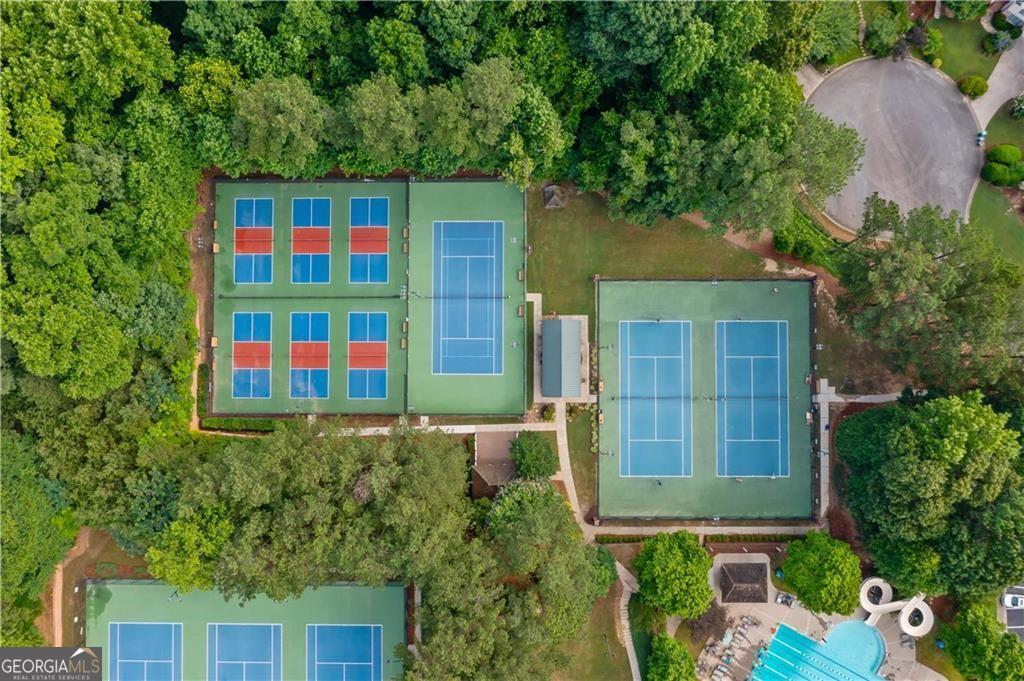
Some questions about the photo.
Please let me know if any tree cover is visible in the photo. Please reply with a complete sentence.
Yes, the picture does contain tree cover.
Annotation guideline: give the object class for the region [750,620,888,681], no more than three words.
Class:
swimming pool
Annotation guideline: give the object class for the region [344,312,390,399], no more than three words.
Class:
sports court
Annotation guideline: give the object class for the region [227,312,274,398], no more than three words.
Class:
sports court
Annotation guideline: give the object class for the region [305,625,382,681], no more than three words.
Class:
tennis court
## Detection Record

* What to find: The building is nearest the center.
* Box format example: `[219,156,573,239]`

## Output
[541,319,581,398]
